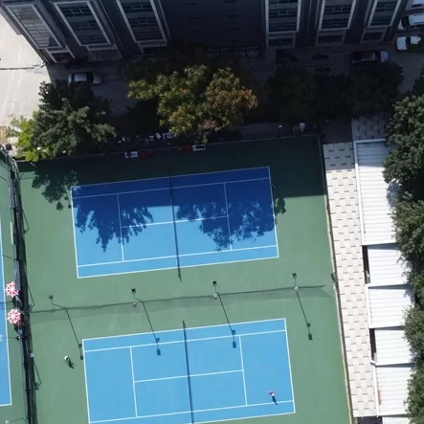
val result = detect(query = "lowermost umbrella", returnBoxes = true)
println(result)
[9,310,24,323]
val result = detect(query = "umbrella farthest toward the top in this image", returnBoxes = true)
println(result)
[6,283,20,296]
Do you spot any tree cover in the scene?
Yes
